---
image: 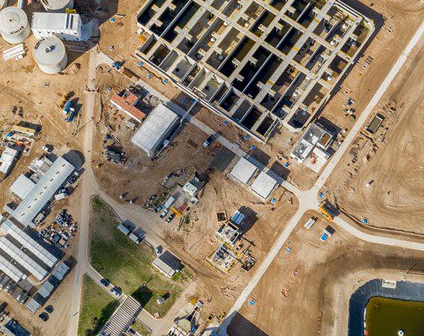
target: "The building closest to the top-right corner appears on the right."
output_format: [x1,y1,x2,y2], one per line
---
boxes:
[292,123,334,166]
